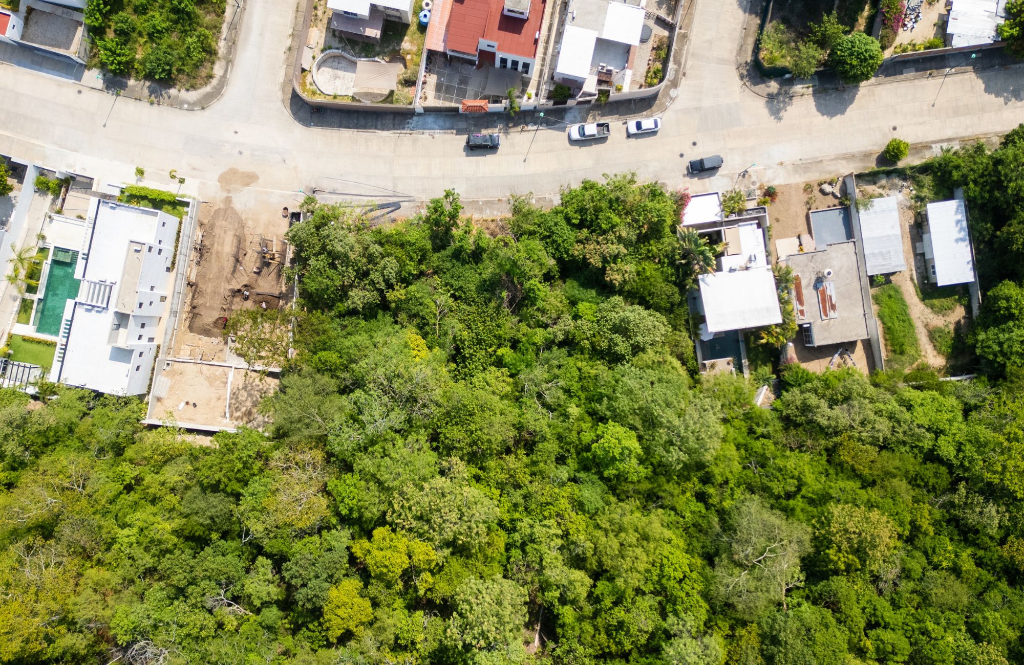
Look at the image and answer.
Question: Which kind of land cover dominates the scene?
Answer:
trees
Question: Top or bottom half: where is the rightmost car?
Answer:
top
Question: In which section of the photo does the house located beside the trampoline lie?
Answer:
top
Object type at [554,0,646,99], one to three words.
house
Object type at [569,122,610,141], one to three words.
vehicle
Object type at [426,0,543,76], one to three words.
house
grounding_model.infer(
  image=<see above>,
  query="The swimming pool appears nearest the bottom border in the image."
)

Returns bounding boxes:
[700,328,752,382]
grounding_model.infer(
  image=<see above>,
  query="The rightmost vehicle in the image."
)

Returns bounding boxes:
[688,154,725,175]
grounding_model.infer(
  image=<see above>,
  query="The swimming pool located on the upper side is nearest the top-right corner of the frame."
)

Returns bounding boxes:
[810,205,858,247]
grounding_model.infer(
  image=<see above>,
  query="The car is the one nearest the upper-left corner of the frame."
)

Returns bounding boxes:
[464,132,499,150]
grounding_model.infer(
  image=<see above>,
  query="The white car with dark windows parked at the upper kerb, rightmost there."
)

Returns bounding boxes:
[627,118,661,135]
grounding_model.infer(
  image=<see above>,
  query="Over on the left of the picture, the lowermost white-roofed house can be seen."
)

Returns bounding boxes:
[49,199,180,395]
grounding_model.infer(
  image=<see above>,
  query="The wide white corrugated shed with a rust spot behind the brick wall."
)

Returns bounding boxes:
[936,0,1009,48]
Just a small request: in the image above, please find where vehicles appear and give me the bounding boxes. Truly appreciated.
[464,132,499,150]
[627,118,661,135]
[569,122,610,141]
[688,154,725,175]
